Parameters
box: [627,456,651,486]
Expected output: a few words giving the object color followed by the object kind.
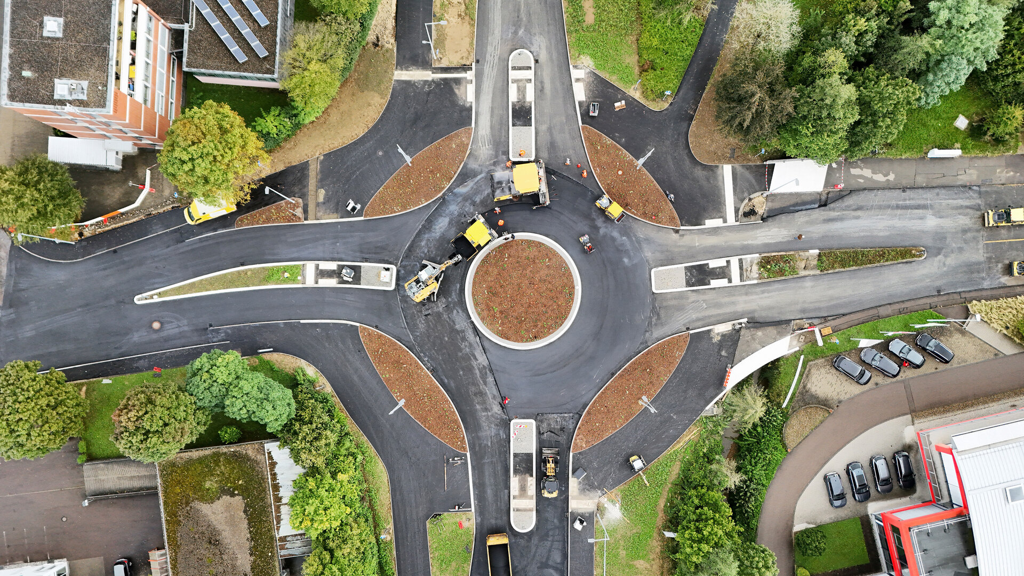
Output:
white work vehicle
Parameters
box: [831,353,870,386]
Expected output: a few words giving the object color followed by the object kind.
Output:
gray car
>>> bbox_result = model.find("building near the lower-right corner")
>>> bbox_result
[864,407,1024,576]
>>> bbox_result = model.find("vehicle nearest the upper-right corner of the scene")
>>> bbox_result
[988,204,1024,226]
